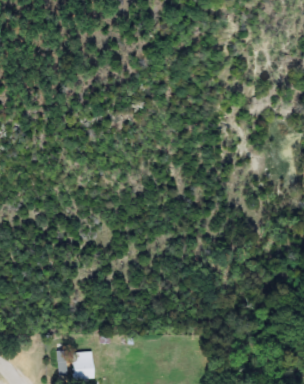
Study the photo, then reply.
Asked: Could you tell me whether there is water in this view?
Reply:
No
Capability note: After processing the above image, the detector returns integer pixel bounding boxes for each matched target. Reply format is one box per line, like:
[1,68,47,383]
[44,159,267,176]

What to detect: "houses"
[56,352,70,375]
[72,352,94,379]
